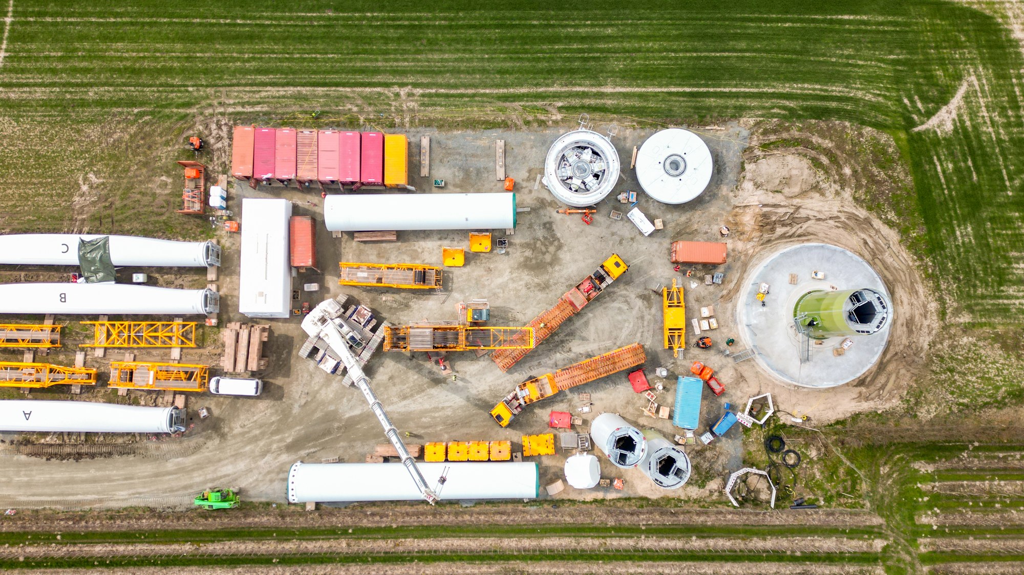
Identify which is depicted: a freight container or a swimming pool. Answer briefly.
freight container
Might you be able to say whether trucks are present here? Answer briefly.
Yes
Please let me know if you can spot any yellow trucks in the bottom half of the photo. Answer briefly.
Yes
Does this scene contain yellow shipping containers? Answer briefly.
Yes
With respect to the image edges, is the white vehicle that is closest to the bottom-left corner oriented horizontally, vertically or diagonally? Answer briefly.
horizontally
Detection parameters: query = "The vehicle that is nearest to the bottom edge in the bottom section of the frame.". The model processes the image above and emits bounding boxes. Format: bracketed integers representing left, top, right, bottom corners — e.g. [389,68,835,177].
[193,487,241,510]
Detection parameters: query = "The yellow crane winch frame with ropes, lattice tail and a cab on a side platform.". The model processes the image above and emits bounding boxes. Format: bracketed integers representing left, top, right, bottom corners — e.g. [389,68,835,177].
[383,299,535,370]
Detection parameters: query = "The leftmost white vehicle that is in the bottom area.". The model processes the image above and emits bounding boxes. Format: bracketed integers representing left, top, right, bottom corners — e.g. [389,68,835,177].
[211,376,265,398]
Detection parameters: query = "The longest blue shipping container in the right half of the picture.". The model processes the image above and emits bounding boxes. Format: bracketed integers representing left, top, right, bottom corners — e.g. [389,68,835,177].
[672,375,703,430]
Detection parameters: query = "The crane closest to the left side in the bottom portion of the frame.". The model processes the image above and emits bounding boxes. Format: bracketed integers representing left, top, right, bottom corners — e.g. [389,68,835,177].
[301,296,444,511]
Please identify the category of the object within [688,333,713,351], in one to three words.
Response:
work vehicle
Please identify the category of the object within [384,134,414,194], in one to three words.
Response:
shipping container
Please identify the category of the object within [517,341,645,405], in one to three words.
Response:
trailer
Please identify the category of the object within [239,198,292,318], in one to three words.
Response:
building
